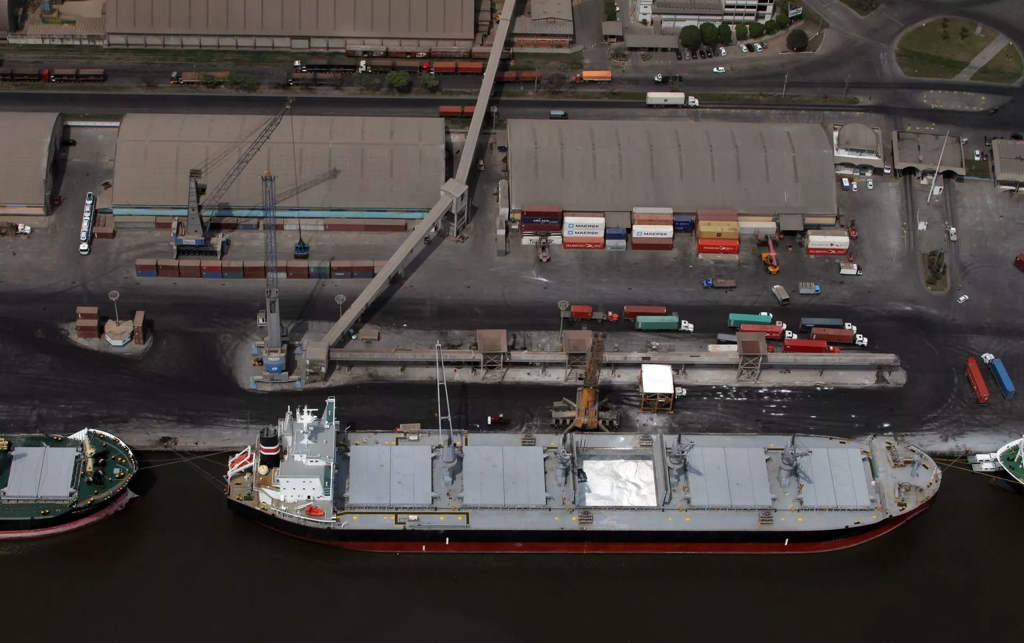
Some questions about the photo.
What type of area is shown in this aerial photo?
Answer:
port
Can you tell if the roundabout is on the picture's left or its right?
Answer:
right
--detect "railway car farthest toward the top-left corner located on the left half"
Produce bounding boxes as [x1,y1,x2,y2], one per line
[343,45,383,59]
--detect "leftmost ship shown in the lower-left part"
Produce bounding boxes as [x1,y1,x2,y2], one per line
[0,429,143,537]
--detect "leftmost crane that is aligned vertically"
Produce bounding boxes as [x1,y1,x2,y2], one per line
[249,170,303,384]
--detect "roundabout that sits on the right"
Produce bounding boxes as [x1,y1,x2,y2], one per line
[896,15,1024,83]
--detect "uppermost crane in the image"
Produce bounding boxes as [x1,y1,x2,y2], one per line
[167,98,293,259]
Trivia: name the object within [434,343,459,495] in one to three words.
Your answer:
crane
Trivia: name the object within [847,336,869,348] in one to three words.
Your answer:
vehicle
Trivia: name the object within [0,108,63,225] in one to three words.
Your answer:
building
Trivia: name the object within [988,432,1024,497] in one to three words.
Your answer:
ship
